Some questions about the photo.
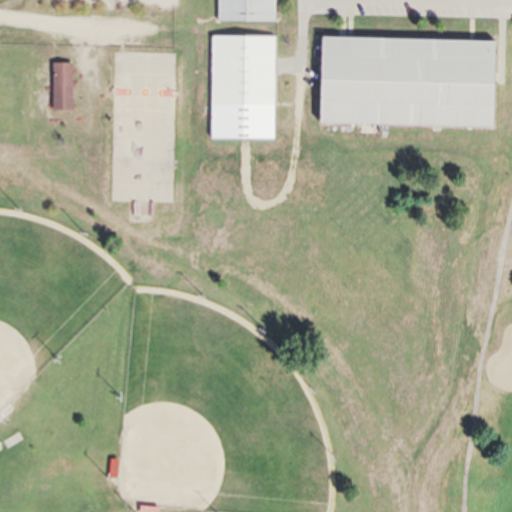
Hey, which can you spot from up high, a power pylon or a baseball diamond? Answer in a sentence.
The image shows a baseball diamond.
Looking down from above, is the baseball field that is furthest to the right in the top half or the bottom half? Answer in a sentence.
The bottom half of the photo is where the baseball field that is furthest to the right is.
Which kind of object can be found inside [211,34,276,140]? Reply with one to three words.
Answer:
barn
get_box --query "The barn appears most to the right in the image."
[321,36,496,128]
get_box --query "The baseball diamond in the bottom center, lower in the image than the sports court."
[116,286,336,512]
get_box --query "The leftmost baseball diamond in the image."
[0,208,134,414]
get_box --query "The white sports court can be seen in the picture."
[112,52,176,222]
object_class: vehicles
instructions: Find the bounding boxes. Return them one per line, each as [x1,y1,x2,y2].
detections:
[404,2,412,14]
[357,2,365,14]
